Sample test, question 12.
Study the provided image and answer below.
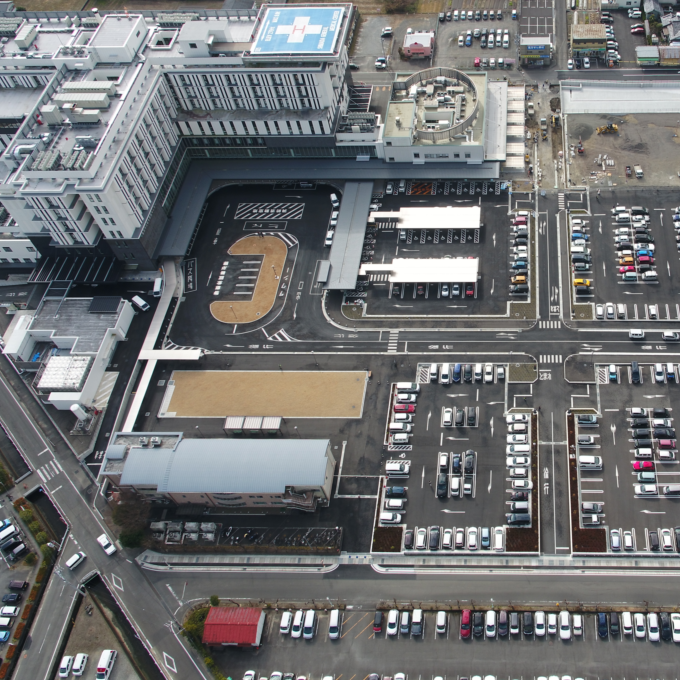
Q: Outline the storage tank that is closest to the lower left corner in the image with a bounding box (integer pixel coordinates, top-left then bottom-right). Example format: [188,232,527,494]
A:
[62,398,103,435]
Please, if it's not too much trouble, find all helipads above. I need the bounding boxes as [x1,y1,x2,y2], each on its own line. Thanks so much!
[241,2,353,64]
